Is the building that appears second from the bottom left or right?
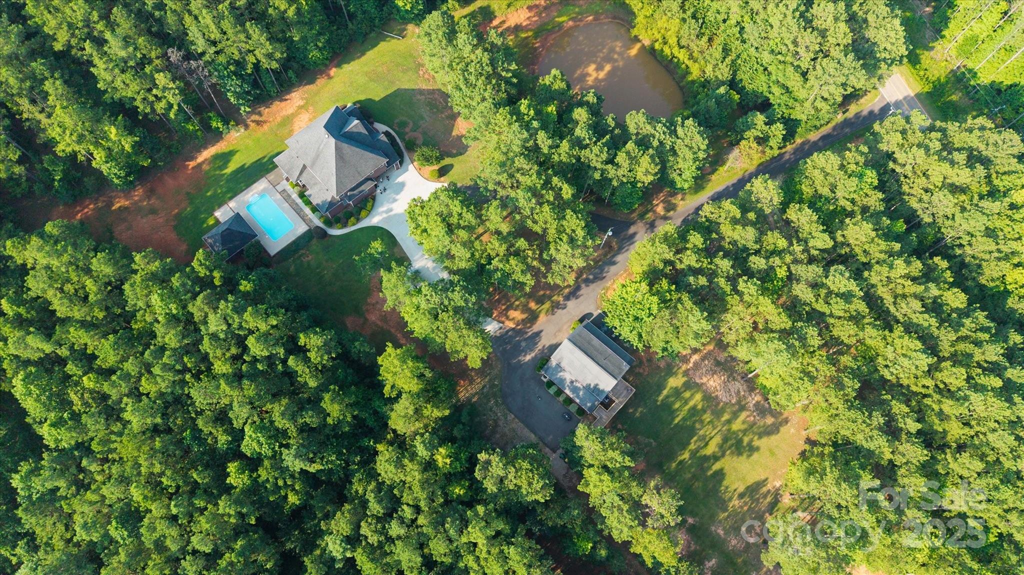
left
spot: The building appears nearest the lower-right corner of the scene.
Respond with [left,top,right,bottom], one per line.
[540,319,636,414]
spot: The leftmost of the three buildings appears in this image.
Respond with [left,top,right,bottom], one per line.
[203,212,259,263]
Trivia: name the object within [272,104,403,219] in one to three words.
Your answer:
house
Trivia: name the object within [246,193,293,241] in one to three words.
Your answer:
swimming pool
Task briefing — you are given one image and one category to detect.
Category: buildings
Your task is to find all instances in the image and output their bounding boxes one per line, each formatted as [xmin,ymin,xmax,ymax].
[272,104,403,219]
[203,212,259,263]
[540,319,636,414]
